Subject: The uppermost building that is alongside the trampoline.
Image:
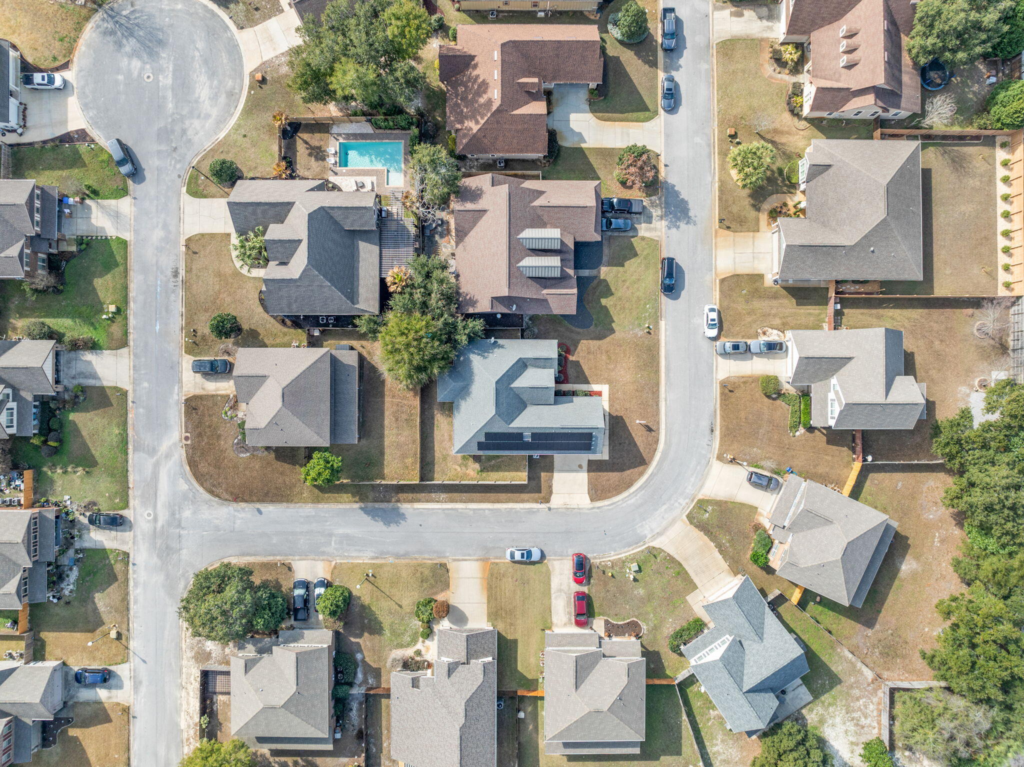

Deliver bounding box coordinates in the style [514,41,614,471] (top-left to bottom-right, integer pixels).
[780,0,921,118]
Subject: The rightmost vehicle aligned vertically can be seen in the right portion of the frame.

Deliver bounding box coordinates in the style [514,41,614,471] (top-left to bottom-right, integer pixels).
[702,304,719,339]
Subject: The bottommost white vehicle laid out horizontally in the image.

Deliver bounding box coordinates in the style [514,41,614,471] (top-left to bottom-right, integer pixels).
[505,546,541,563]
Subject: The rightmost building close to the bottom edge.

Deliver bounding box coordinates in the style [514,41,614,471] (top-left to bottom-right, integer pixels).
[681,574,810,738]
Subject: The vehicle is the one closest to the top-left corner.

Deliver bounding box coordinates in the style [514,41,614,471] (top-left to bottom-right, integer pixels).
[24,72,68,92]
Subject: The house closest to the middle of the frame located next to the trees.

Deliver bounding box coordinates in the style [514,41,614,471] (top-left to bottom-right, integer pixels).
[437,339,605,455]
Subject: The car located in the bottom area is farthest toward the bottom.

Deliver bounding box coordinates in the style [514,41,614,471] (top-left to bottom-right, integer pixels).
[77,666,114,686]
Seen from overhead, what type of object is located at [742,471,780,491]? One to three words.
car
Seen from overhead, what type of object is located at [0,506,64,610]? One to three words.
house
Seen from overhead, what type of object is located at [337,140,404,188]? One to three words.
swimming pool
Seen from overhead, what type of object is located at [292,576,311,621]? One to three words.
vehicle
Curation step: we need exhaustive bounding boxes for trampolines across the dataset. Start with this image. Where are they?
[921,56,955,89]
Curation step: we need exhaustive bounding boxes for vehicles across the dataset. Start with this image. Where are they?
[702,304,719,339]
[601,196,644,215]
[292,576,311,621]
[571,551,588,584]
[24,72,68,92]
[748,339,786,355]
[311,576,328,612]
[660,7,679,54]
[505,546,541,563]
[572,590,589,626]
[107,139,137,179]
[659,257,677,295]
[601,216,633,233]
[77,666,114,686]
[191,358,232,375]
[714,339,748,356]
[89,511,127,529]
[660,75,677,113]
[742,471,780,491]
